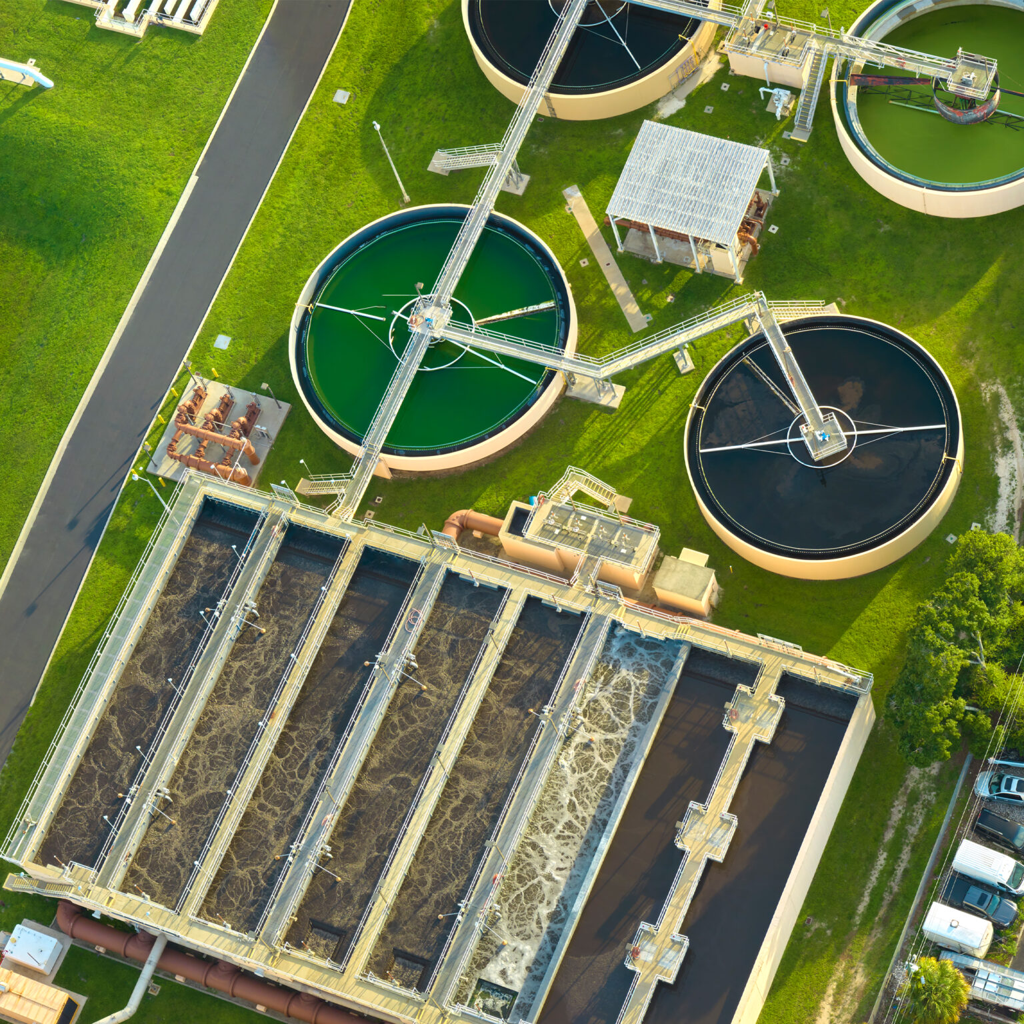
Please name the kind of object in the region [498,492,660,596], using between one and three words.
building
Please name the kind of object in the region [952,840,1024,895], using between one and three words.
van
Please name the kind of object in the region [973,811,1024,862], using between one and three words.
truck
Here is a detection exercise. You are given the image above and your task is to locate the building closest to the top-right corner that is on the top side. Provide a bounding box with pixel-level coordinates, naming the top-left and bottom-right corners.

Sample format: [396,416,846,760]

[724,11,841,90]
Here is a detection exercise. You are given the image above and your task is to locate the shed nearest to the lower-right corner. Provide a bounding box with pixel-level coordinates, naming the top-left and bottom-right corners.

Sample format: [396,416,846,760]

[652,547,718,616]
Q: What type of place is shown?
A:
industrial area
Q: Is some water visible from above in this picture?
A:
Yes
